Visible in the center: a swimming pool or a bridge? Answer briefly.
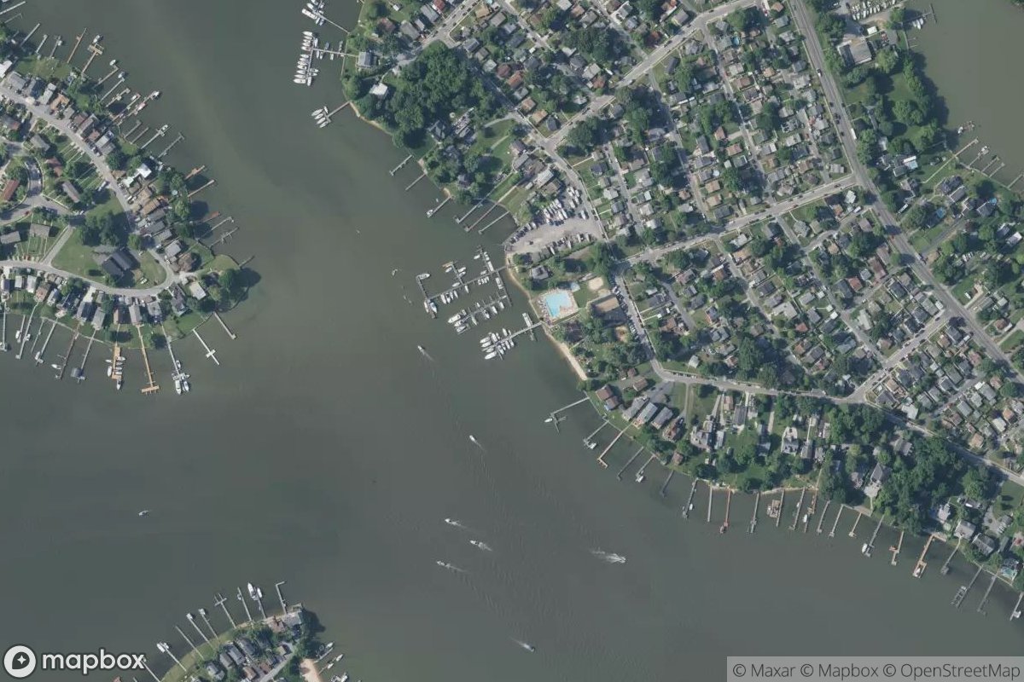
swimming pool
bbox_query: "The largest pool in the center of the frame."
[537,288,579,321]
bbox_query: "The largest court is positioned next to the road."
[591,294,627,327]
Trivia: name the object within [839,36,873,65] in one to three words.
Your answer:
building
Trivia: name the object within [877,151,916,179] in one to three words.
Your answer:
house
